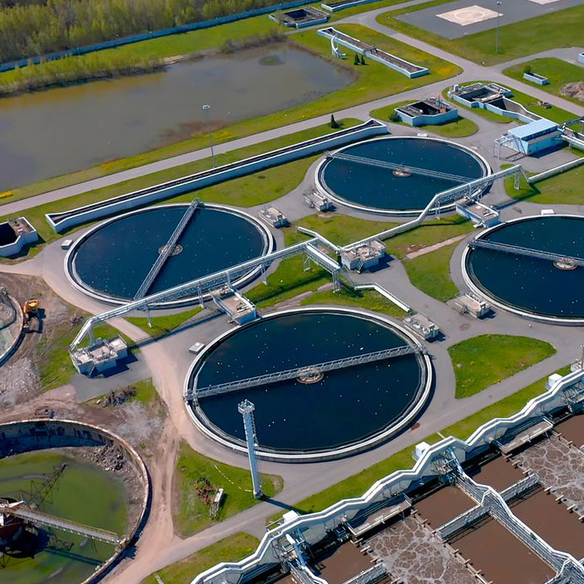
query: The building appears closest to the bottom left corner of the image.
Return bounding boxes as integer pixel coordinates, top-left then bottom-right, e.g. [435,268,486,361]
[63,327,123,378]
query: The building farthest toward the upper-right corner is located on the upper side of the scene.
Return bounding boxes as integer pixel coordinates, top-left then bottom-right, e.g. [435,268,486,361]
[493,117,566,162]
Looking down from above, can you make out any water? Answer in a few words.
Yes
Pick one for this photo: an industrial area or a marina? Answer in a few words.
industrial area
